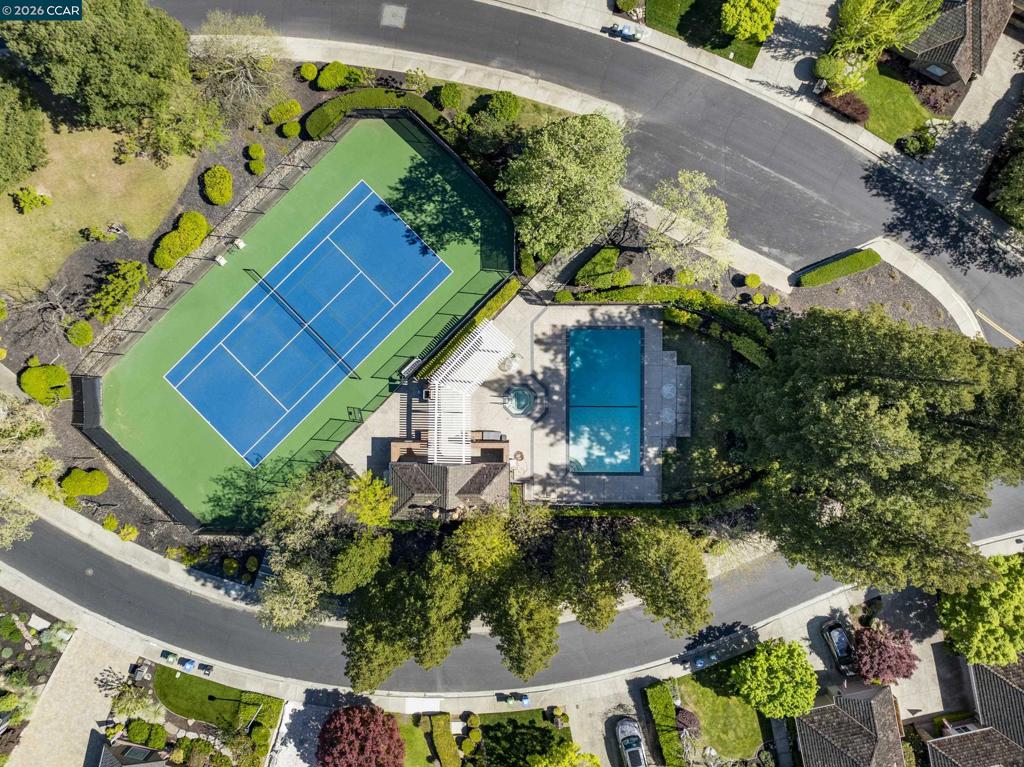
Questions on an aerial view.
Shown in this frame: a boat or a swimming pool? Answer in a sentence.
I can see a swimming pool in this picture.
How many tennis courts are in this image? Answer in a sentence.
The count comes to 1 tennis court.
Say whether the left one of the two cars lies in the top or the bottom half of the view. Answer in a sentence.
The bottom half of the photo is where the left one of the two cars is.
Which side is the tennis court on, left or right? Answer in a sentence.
The tennis court sits on the left side.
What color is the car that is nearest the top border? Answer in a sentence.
In this view, the car that is nearest the top border is black.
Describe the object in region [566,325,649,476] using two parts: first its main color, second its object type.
blue swimming pool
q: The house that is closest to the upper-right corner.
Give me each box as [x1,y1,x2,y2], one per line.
[904,0,1018,85]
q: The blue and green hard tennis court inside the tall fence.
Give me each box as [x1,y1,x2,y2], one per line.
[100,119,514,527]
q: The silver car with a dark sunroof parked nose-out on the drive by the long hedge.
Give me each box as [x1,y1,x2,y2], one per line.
[618,714,649,767]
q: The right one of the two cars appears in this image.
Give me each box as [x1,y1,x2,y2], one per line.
[818,617,857,677]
